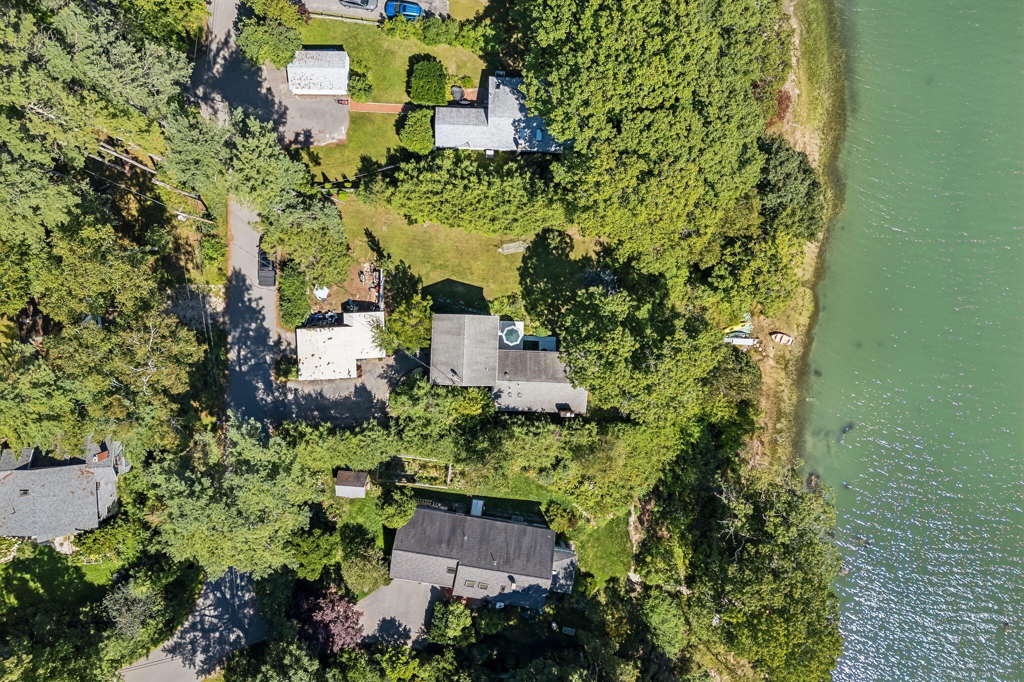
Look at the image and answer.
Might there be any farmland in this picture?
No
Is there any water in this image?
Yes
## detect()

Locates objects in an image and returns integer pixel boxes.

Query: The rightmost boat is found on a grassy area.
[773,334,797,347]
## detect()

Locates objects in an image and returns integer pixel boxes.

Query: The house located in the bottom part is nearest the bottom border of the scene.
[389,504,577,610]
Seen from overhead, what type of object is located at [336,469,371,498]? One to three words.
shed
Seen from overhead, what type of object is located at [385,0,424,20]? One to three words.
car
